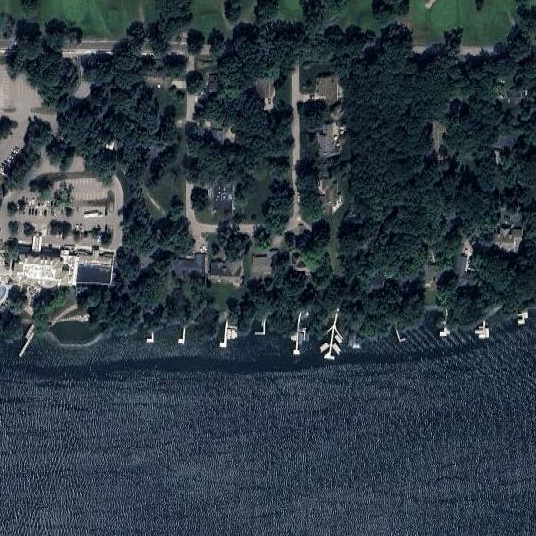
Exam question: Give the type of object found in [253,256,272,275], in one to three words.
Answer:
house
